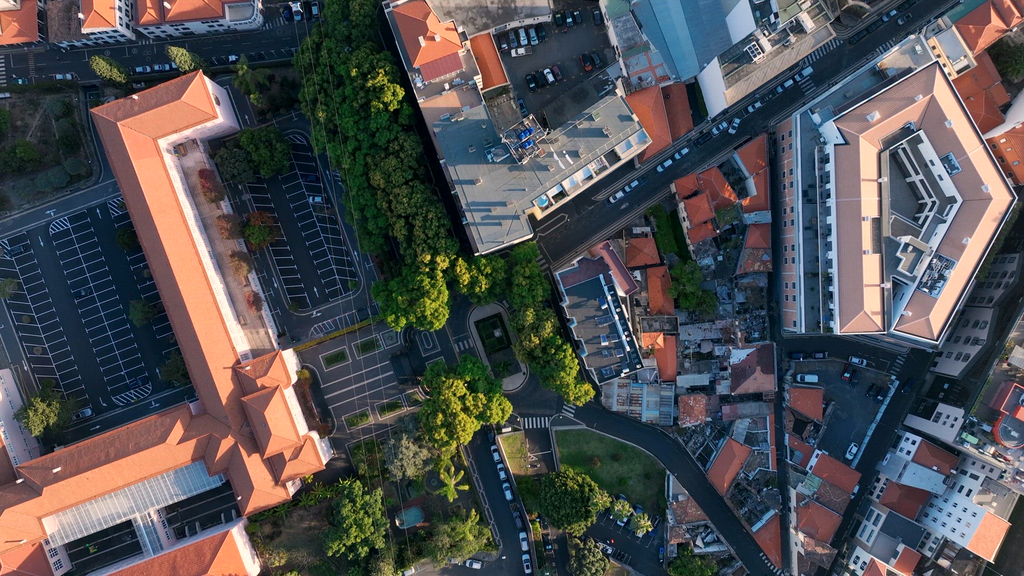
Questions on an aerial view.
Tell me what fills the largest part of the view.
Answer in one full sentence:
The largest share of the image is taken up by buildings.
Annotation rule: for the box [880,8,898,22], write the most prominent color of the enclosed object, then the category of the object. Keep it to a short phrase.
blue car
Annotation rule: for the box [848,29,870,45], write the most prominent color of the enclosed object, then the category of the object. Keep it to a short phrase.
black vehicle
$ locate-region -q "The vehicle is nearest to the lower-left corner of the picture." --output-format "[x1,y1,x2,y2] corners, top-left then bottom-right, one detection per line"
[78,407,95,420]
